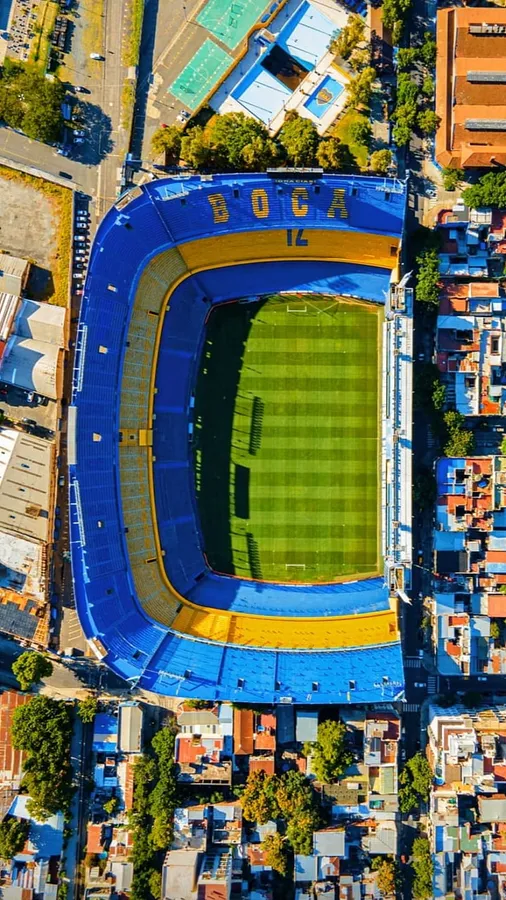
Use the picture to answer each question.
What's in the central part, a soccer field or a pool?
soccer field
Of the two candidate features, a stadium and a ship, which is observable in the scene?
stadium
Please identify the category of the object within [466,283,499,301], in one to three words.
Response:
house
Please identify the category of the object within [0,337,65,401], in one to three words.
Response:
building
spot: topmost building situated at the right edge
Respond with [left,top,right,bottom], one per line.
[429,8,506,178]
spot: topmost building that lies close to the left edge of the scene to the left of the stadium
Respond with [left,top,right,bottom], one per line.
[0,254,35,300]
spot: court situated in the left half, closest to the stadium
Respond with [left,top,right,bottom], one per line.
[168,38,234,110]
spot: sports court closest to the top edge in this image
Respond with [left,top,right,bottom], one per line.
[196,0,271,49]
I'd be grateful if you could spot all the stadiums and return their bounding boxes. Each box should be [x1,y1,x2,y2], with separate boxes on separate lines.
[66,165,416,705]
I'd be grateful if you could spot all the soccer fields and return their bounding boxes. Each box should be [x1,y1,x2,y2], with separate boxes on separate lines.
[191,294,385,584]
